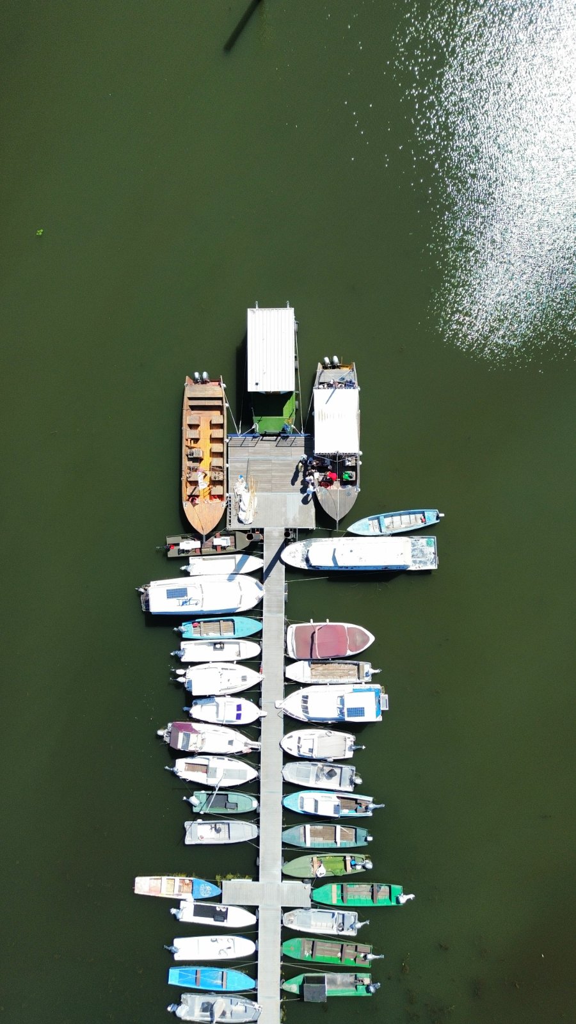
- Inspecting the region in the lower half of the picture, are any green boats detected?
Yes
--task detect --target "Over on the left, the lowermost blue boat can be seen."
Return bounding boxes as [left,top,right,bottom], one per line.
[168,962,257,992]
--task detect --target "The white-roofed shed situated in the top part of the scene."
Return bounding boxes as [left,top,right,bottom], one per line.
[239,302,305,435]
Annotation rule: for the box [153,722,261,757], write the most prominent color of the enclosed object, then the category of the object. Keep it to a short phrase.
white boat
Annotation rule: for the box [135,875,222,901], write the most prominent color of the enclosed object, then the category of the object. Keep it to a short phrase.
white boat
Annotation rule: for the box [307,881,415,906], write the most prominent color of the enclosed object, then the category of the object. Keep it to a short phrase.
green boat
